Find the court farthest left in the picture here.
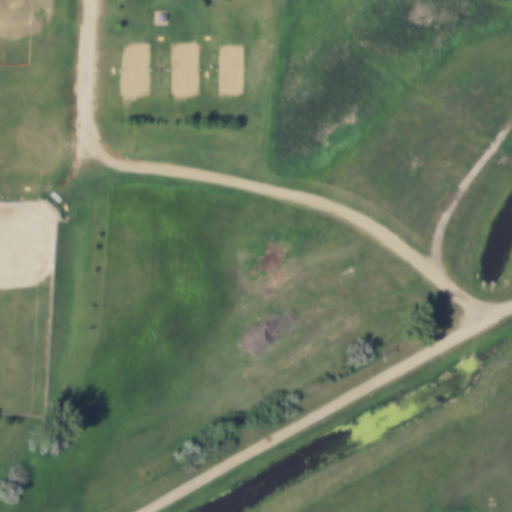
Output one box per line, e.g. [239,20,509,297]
[120,42,151,101]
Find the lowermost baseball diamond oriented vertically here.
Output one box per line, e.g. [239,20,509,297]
[0,200,61,415]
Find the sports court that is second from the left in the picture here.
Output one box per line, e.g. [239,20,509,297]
[170,42,200,99]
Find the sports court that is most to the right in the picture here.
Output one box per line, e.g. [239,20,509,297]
[218,45,244,96]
